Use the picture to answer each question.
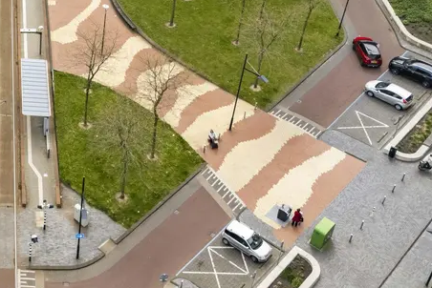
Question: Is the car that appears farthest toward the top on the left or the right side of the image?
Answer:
right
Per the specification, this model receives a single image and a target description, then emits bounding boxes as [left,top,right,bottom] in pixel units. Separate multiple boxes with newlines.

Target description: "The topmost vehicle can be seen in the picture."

[350,36,384,65]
